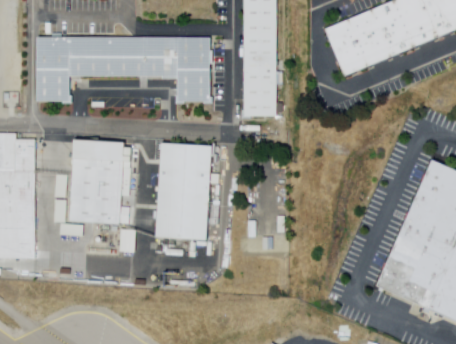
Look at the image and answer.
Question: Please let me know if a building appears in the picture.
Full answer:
Yes, there's a building down there.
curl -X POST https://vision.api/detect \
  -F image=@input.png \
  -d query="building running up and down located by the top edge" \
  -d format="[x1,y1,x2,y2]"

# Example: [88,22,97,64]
[242,0,283,120]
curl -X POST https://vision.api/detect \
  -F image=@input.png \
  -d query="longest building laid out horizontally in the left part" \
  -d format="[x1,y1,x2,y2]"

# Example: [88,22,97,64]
[36,37,213,104]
